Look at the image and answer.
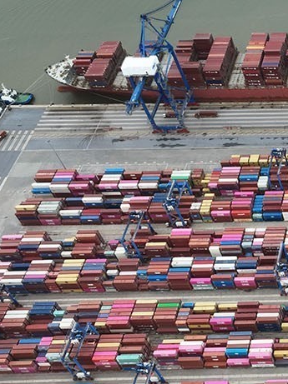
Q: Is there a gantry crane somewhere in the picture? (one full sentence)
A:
Yes, a gantry crane can be made out from above.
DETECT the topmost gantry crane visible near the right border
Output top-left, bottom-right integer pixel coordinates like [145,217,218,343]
[265,147,288,194]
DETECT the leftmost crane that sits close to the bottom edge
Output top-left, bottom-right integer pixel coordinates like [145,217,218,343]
[61,322,100,382]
